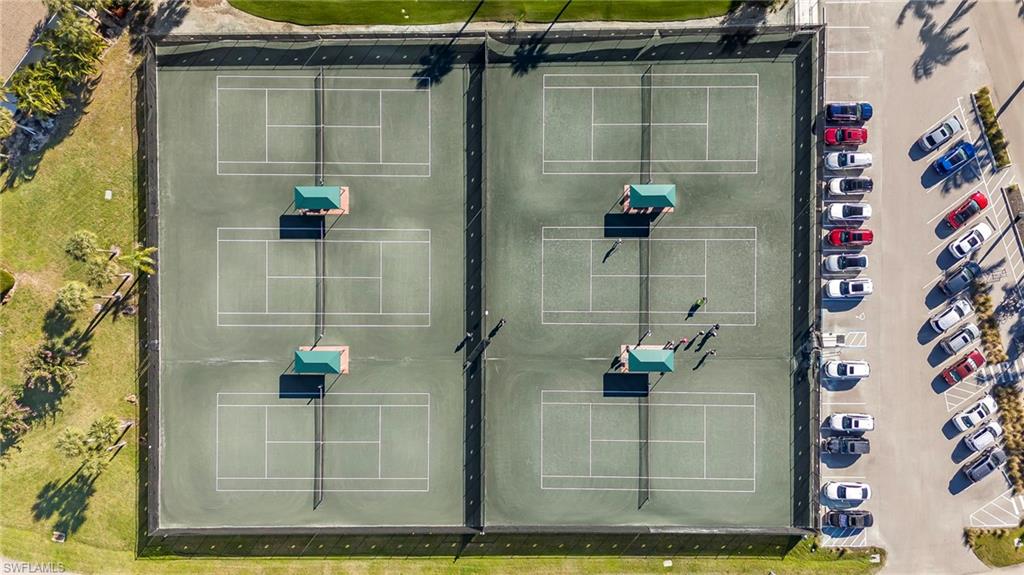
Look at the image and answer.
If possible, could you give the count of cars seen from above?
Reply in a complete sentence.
The count of cars comes to 24.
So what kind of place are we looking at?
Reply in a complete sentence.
This image shows a sports ground.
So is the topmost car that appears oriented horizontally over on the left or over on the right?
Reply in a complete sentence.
You can find the topmost car that appears oriented horizontally on the right side of the picture.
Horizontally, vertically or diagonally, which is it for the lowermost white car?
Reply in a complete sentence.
The lowermost white car is oriented horizontally.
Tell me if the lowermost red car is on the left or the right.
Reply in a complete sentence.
The lowermost red car appears in the right half of the scene.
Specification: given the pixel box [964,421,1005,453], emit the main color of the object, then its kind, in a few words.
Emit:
white car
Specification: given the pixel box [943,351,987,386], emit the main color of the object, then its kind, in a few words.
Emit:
red car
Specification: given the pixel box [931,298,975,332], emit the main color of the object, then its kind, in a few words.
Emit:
white car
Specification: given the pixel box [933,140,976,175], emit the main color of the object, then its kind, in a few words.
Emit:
blue car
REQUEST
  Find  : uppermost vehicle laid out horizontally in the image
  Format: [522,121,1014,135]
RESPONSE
[825,101,872,122]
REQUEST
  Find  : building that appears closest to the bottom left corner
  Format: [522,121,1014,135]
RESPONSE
[295,346,349,374]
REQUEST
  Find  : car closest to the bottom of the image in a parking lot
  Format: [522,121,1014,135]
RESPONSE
[824,509,872,531]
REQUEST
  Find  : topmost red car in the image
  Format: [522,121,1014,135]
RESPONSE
[825,127,868,147]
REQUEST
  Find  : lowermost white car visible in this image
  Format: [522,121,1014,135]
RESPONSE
[826,482,870,502]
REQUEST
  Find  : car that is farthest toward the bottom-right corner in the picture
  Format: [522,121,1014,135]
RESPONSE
[964,448,1008,482]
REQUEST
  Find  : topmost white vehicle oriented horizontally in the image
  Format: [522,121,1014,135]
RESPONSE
[825,150,871,170]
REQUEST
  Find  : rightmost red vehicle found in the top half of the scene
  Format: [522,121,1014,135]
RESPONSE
[946,194,989,229]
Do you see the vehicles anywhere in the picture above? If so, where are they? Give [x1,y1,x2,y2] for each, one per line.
[943,351,987,386]
[949,223,991,257]
[940,322,983,355]
[933,140,976,175]
[827,278,873,299]
[825,127,868,147]
[826,482,870,502]
[824,509,872,531]
[825,101,872,122]
[823,436,870,457]
[828,227,873,247]
[825,252,868,273]
[964,448,1008,482]
[828,201,872,221]
[830,412,875,433]
[931,298,975,332]
[964,421,1005,453]
[953,398,997,432]
[826,360,870,380]
[920,117,962,152]
[939,262,982,295]
[946,194,989,229]
[828,175,872,196]
[825,150,871,170]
